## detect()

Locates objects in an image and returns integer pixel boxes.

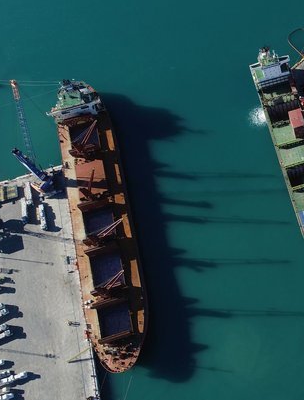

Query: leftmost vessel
[48,74,143,375]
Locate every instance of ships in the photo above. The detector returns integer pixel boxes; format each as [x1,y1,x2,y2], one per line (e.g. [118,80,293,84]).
[48,74,143,375]
[254,55,304,240]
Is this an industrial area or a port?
port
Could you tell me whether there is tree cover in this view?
No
